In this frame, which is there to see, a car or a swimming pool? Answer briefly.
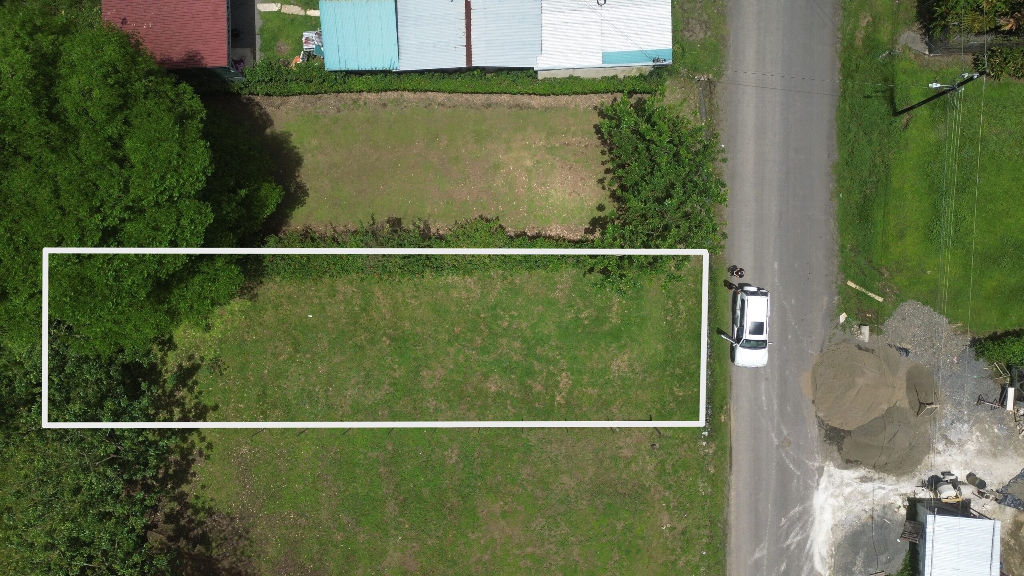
car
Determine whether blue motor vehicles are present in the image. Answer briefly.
No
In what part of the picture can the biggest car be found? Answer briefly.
right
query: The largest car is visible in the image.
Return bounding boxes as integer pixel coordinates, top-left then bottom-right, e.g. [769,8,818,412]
[720,289,774,368]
